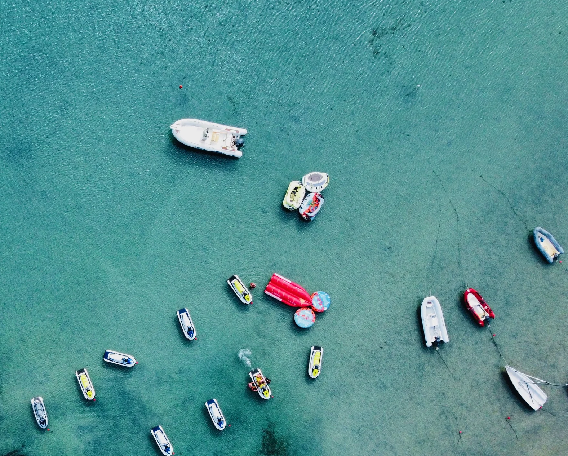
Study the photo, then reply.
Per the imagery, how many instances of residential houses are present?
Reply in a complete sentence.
There are no residential houses in the image.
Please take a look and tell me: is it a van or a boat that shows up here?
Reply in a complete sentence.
The one in the frame is a boat.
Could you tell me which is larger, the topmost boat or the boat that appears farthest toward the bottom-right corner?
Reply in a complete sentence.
Compared with the boat that appears farthest toward the bottom-right corner, the topmost boat is the larger one.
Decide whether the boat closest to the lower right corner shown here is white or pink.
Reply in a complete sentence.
The boat closest to the lower right corner is white.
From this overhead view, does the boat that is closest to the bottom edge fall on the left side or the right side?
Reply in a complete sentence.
The boat that is closest to the bottom edge appears in the left half of the scene.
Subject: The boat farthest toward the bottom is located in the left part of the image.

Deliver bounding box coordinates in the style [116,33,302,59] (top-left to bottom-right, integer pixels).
[151,424,172,456]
